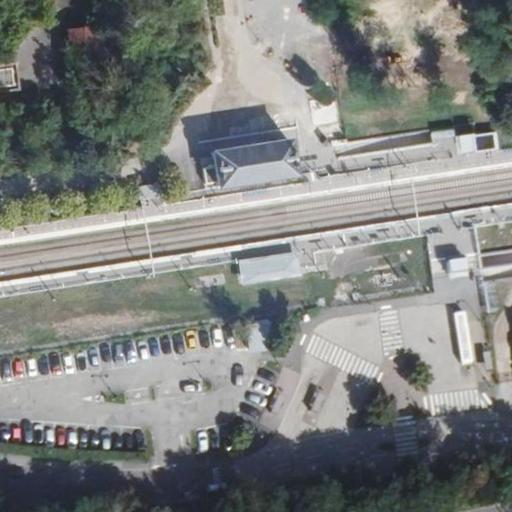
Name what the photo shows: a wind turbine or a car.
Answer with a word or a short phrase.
car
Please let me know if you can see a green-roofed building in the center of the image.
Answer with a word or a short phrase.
No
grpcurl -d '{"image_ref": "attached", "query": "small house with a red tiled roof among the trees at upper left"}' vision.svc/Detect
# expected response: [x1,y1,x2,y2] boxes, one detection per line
[67,24,94,44]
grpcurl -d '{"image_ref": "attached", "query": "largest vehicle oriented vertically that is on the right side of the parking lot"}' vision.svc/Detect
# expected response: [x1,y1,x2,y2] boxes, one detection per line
[455,310,476,368]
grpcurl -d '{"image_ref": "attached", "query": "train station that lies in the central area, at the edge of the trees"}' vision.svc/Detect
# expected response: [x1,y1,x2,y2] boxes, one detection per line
[0,138,512,296]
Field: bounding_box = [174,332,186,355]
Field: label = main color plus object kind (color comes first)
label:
gray vehicle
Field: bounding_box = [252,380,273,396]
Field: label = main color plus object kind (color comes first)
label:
white car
